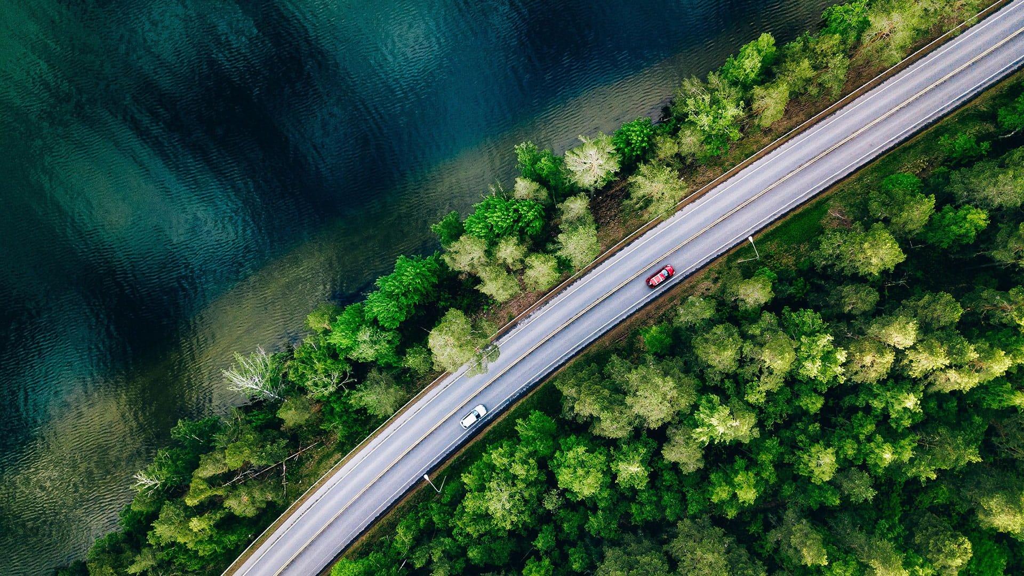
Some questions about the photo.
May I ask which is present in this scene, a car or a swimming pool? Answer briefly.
car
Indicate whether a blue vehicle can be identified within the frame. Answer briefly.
No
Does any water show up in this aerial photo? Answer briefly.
Yes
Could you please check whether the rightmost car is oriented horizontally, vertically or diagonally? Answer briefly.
diagonally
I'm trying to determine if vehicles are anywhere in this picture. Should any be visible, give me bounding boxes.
[647,266,674,288]
[460,405,487,429]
